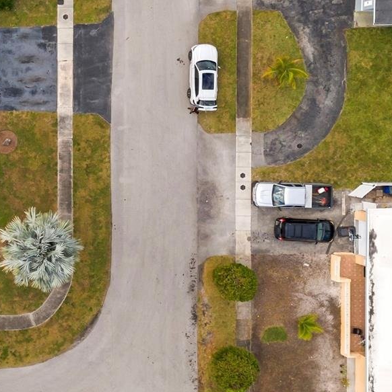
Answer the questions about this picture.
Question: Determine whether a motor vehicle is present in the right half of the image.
Yes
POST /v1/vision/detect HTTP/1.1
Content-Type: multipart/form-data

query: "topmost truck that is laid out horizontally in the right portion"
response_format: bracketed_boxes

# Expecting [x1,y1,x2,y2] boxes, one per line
[253,181,334,211]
